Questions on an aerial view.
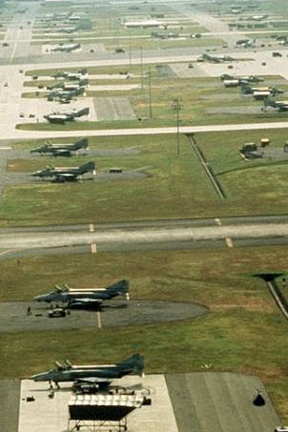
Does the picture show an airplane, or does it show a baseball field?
airplane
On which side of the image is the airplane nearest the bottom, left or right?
left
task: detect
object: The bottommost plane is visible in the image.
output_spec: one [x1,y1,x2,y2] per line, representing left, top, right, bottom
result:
[29,355,145,390]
